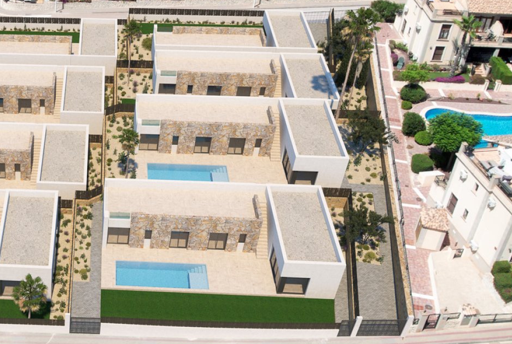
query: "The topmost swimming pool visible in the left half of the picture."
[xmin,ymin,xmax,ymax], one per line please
[149,160,234,184]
